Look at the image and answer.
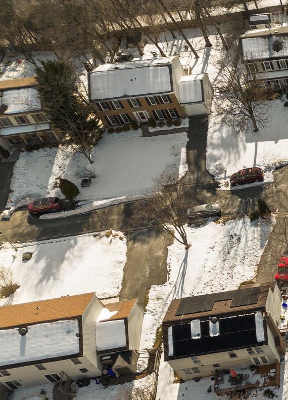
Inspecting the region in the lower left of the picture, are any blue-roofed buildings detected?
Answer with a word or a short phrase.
No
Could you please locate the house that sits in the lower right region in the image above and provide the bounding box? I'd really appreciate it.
[163,282,286,380]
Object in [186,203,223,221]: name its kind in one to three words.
car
